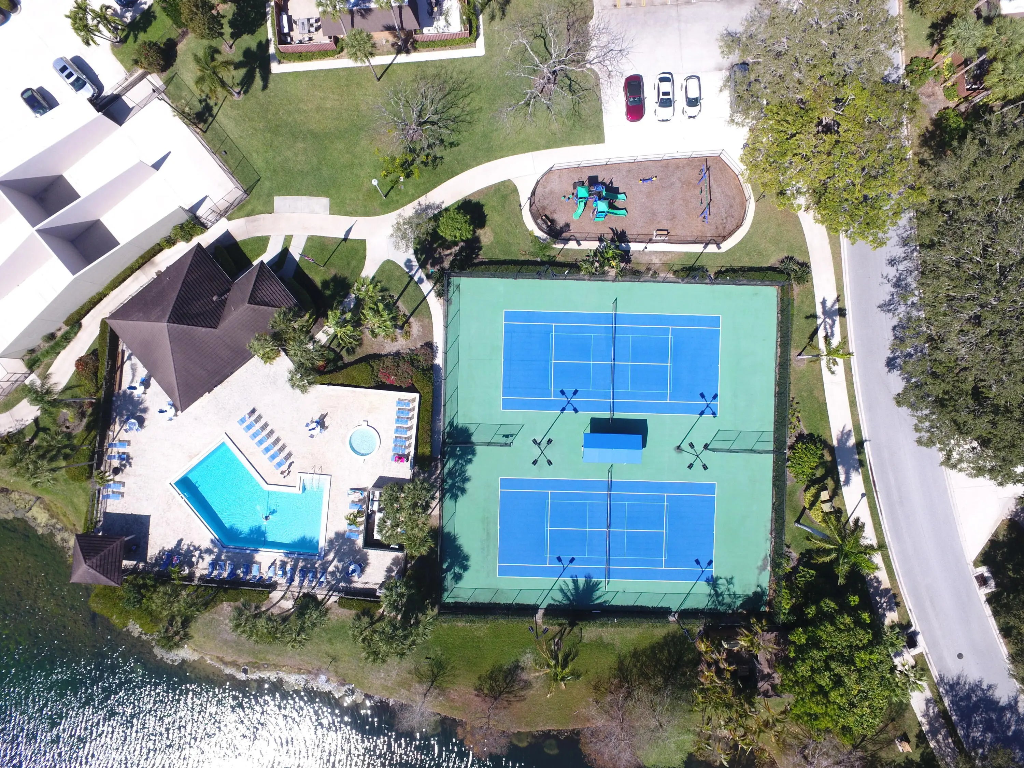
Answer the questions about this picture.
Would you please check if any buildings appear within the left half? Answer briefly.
Yes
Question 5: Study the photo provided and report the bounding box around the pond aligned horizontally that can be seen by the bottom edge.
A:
[0,505,775,768]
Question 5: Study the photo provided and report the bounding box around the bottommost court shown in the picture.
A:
[440,441,773,614]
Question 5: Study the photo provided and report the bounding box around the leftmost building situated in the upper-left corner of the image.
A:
[0,99,110,172]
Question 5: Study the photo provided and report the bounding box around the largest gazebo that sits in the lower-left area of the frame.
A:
[71,532,134,586]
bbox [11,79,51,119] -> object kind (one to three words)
car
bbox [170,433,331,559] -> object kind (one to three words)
swimming pool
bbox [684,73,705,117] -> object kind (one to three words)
car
